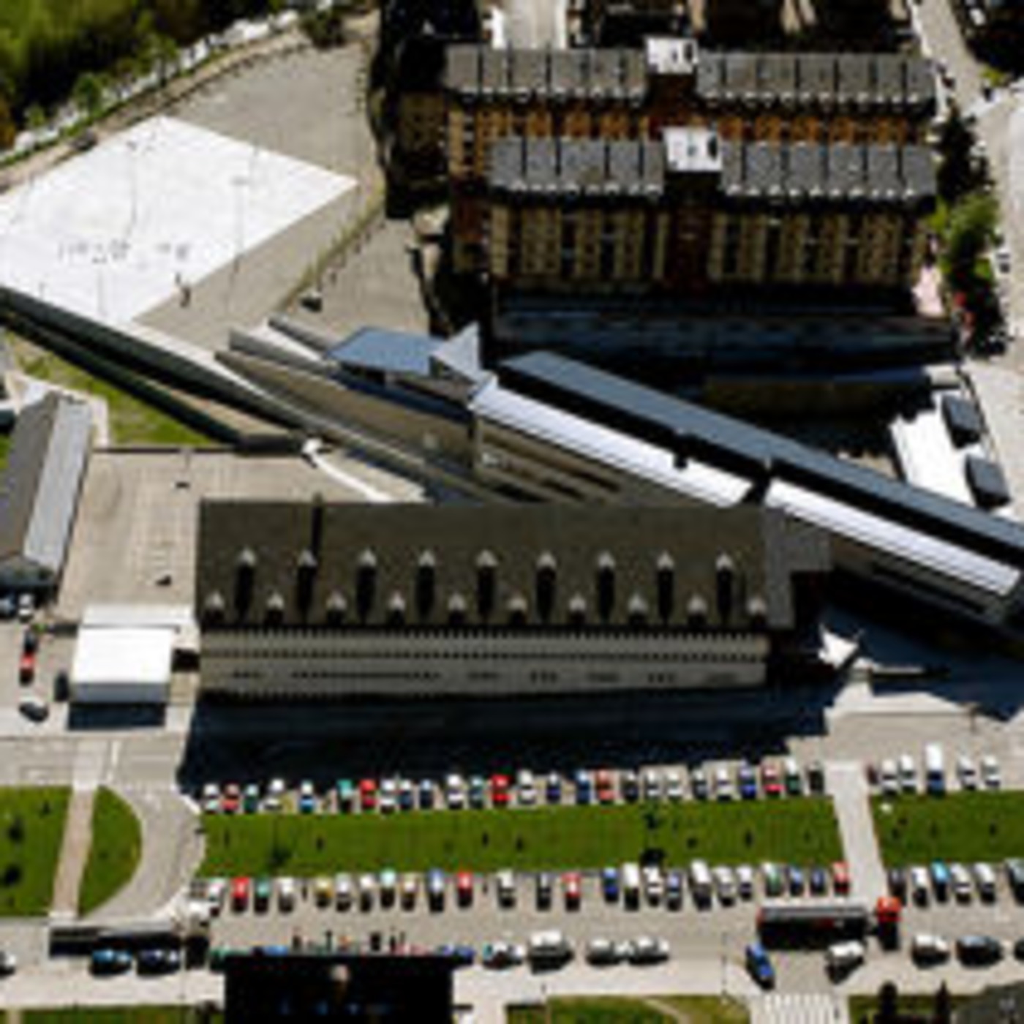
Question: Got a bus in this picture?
Yes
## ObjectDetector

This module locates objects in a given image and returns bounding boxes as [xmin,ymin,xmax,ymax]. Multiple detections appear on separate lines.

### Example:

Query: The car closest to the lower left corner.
[0,947,23,968]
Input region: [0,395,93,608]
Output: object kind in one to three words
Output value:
barn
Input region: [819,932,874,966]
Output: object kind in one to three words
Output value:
van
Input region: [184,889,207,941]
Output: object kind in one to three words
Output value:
truck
